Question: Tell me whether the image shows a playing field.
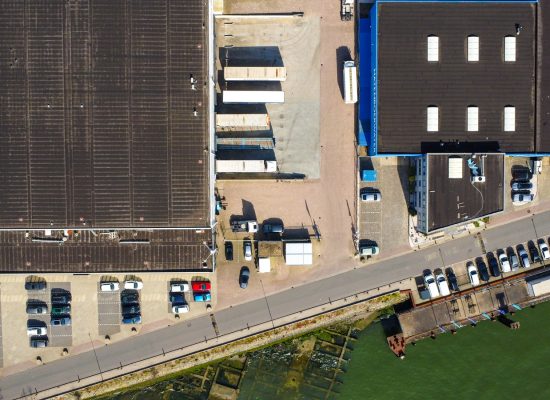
No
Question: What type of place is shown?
industrial area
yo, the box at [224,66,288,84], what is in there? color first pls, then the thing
white trailer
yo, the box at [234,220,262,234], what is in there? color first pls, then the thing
white vehicle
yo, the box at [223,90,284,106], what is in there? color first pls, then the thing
white trailer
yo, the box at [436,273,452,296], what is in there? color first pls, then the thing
white car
